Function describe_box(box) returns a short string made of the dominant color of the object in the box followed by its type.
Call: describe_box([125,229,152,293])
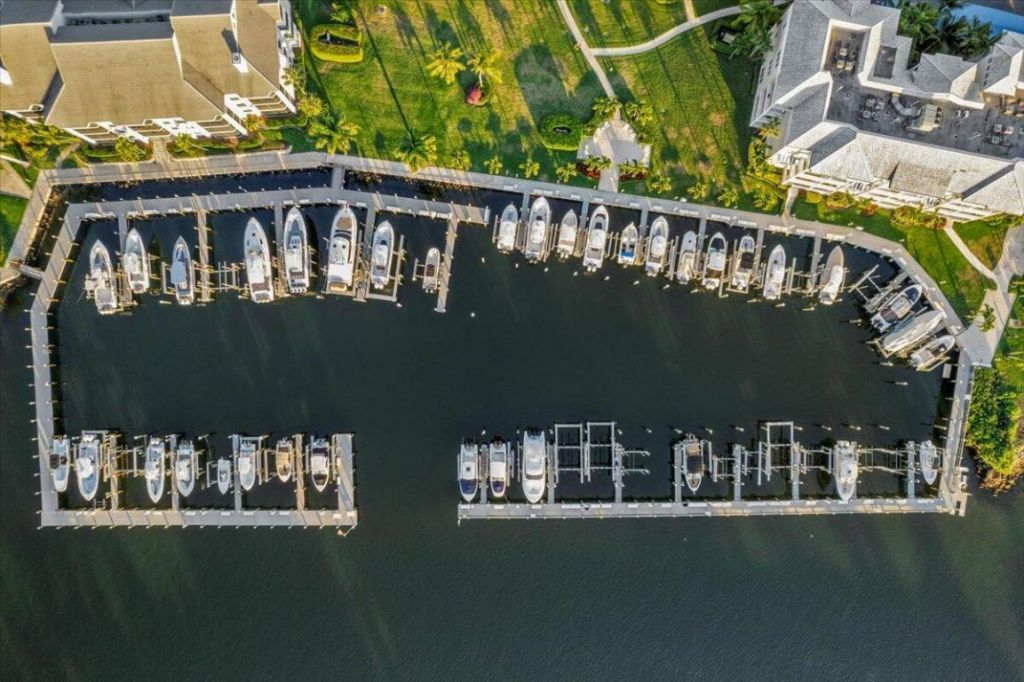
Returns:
white boat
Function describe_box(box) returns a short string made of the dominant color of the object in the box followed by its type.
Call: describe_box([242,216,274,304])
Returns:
white boat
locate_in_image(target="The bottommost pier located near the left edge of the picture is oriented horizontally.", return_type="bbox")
[39,435,358,528]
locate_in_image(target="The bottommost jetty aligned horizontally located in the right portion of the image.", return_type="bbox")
[457,442,958,518]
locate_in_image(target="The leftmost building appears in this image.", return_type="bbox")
[0,0,303,141]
